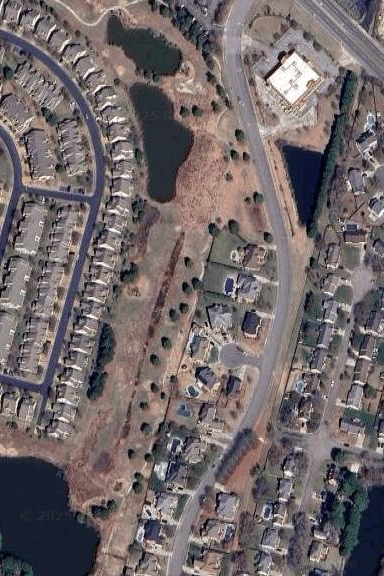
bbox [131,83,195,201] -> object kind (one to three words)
pond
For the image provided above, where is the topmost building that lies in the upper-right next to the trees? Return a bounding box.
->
[267,51,325,105]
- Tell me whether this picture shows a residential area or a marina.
residential area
